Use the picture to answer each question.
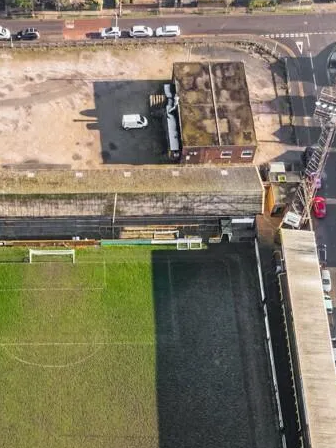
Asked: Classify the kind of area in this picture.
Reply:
sports ground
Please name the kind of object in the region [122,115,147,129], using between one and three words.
vehicle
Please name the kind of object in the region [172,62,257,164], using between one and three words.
building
